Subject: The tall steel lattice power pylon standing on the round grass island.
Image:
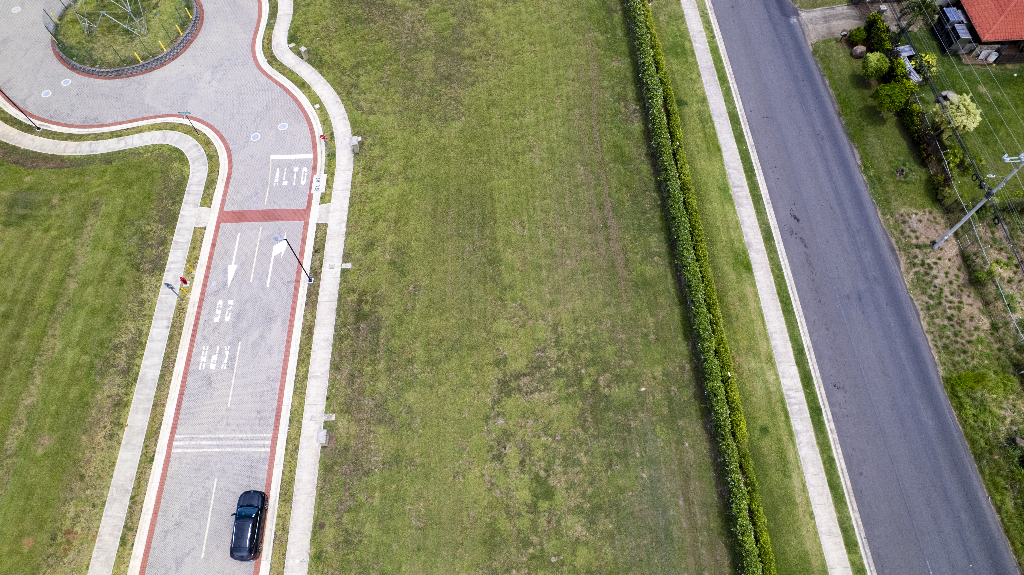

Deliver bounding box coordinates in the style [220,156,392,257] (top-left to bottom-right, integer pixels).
[66,0,149,37]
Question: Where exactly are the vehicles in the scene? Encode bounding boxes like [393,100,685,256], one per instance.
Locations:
[228,491,269,565]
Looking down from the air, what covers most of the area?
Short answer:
grass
